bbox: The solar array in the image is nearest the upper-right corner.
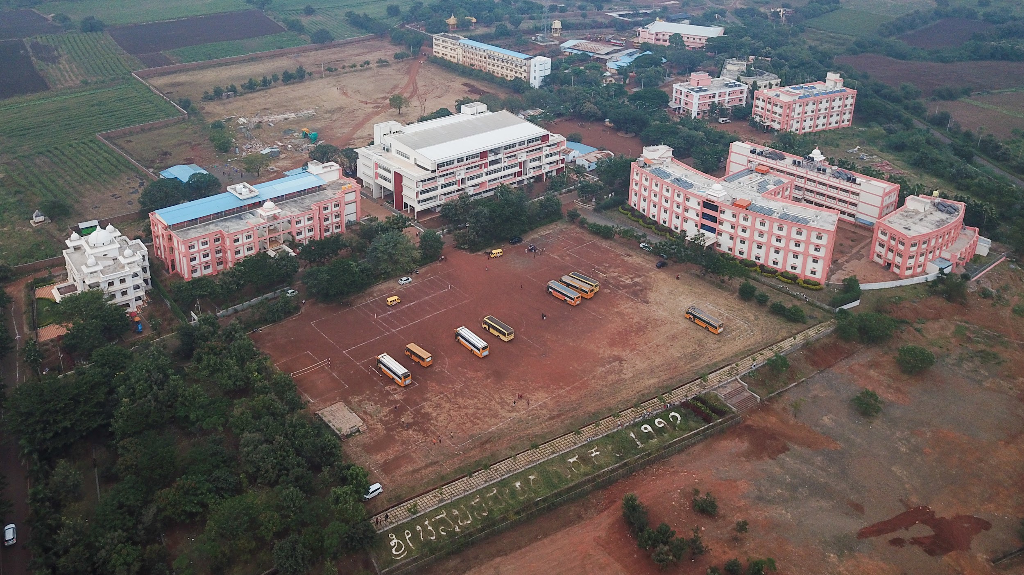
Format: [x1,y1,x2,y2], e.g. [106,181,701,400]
[936,200,960,215]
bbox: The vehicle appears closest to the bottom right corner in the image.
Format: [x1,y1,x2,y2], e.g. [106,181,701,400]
[684,307,724,333]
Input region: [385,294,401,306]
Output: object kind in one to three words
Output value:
vehicle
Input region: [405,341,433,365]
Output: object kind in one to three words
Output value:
bus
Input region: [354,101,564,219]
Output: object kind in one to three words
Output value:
building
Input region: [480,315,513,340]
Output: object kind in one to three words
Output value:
bus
